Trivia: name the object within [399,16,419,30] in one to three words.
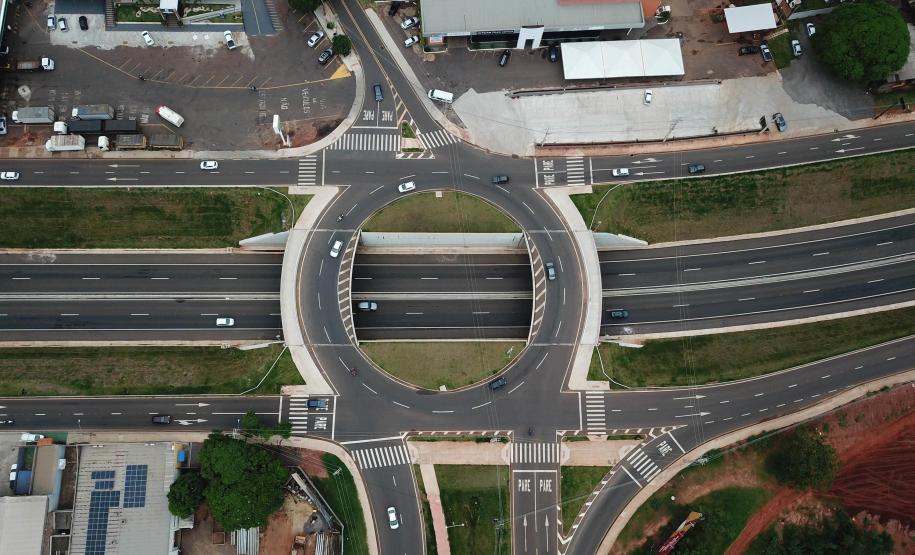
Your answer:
car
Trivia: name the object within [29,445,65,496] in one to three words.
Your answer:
building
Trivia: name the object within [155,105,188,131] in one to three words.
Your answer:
truck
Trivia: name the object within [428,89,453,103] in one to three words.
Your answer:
vehicle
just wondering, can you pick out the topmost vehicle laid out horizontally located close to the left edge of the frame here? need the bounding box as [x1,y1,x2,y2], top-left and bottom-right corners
[8,58,57,73]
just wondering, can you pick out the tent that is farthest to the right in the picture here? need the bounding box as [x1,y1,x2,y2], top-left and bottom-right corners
[559,38,684,86]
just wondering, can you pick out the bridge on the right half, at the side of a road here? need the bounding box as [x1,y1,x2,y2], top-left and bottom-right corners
[525,227,603,349]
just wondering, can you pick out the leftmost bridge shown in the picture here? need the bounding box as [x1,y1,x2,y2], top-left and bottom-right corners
[280,225,361,349]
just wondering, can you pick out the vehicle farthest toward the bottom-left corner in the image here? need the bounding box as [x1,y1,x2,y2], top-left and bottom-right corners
[7,463,21,490]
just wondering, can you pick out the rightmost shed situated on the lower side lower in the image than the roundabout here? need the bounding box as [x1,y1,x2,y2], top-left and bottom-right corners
[292,473,334,526]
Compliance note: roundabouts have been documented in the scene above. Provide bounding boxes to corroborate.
[285,110,600,450]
